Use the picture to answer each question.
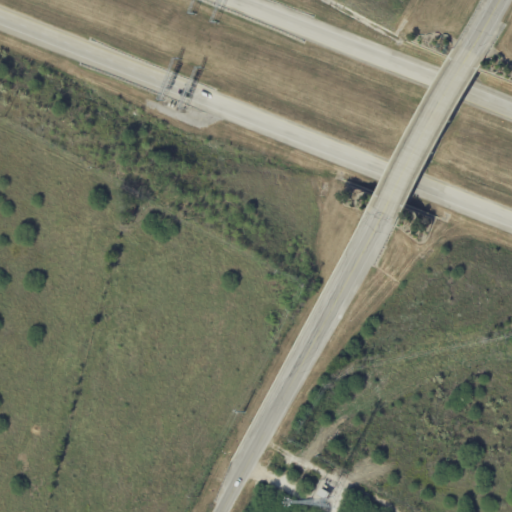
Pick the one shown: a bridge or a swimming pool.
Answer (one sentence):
Visible in the photo is a bridge.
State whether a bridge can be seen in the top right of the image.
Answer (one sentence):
Yes, a bridge shows up in the top right of the image.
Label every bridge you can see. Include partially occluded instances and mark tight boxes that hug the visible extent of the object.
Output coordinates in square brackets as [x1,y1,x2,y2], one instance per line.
[373,57,480,208]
